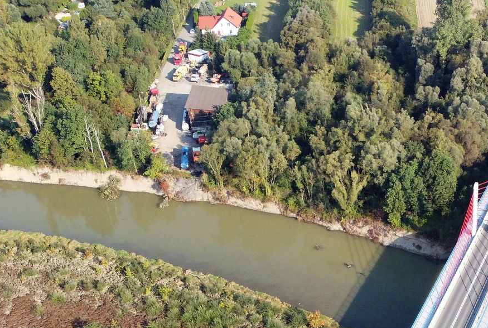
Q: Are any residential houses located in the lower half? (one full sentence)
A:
No, the scene shows no residential house in the lower half.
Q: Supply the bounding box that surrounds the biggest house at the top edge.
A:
[195,11,242,38]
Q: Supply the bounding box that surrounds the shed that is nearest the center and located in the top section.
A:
[182,90,228,121]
